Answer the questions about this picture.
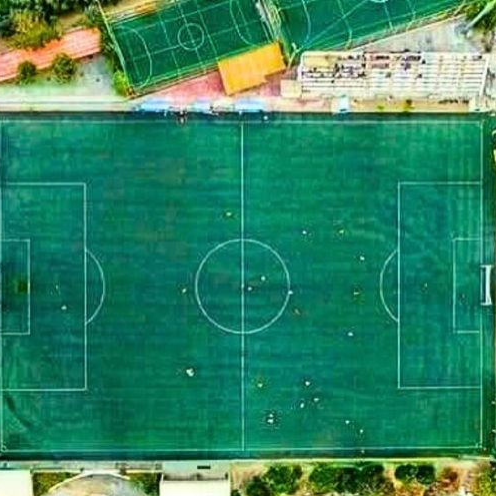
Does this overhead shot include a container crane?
No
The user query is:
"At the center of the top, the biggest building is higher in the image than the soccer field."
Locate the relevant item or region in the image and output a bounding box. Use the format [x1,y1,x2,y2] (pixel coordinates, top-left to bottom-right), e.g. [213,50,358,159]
[218,41,285,98]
